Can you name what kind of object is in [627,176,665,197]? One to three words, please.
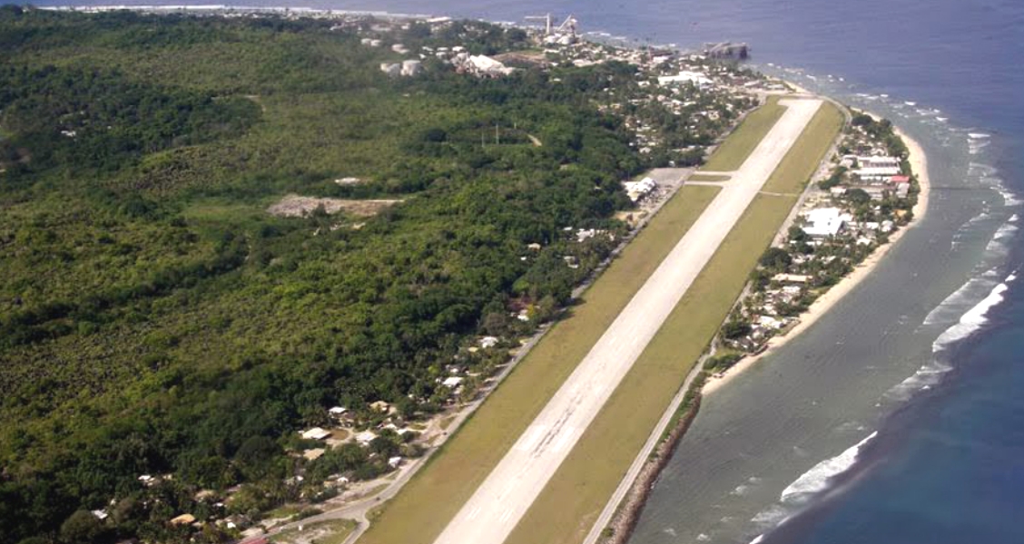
building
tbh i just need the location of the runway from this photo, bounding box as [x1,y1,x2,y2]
[433,101,820,544]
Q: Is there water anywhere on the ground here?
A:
Yes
